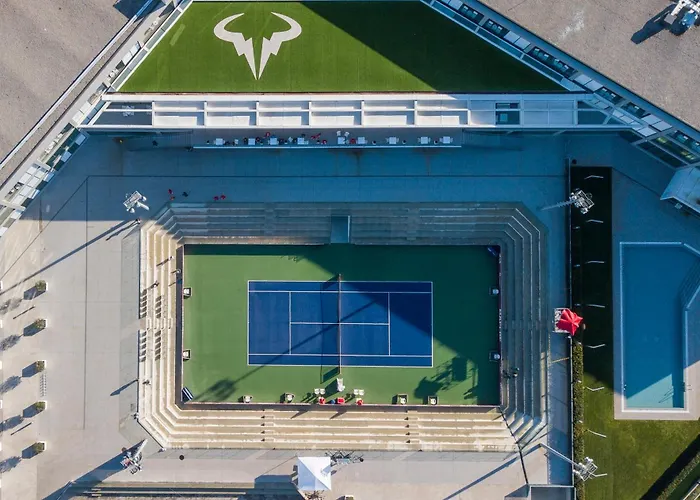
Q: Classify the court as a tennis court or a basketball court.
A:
tennis court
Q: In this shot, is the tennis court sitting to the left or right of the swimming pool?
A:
on the left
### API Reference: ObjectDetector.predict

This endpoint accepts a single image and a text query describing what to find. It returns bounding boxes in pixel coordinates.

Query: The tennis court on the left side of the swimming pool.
[183,246,500,405]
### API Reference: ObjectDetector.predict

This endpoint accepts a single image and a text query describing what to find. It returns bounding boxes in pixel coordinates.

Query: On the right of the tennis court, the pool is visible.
[616,241,700,411]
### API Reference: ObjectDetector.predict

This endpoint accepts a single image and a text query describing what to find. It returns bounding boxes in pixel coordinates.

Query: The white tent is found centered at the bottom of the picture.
[295,453,331,491]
